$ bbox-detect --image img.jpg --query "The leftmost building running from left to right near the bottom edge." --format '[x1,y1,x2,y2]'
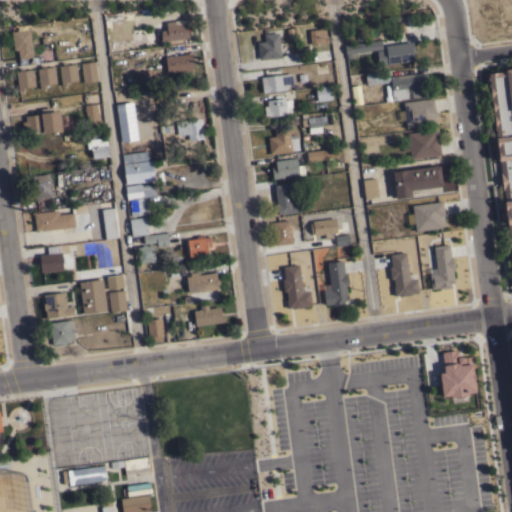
[68,467,107,488]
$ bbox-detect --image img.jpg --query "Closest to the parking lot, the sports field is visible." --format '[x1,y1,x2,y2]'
[156,372,256,461]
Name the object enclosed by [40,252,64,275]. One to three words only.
house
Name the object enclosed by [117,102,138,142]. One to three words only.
shed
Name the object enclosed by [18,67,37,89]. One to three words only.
house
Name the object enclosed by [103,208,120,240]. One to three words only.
building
